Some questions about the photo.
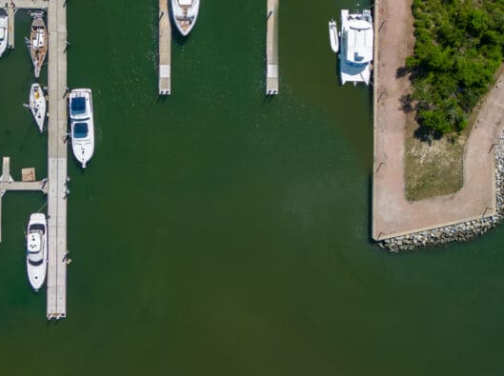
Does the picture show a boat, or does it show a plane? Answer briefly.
boat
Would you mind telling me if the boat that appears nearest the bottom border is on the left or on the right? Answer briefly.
left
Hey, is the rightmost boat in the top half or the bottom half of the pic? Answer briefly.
top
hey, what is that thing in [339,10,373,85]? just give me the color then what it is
white boat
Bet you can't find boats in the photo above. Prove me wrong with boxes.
[171,0,200,36]
[66,89,94,169]
[328,18,339,52]
[339,10,373,85]
[30,20,46,73]
[29,84,46,130]
[0,17,9,57]
[29,10,44,15]
[28,206,50,291]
